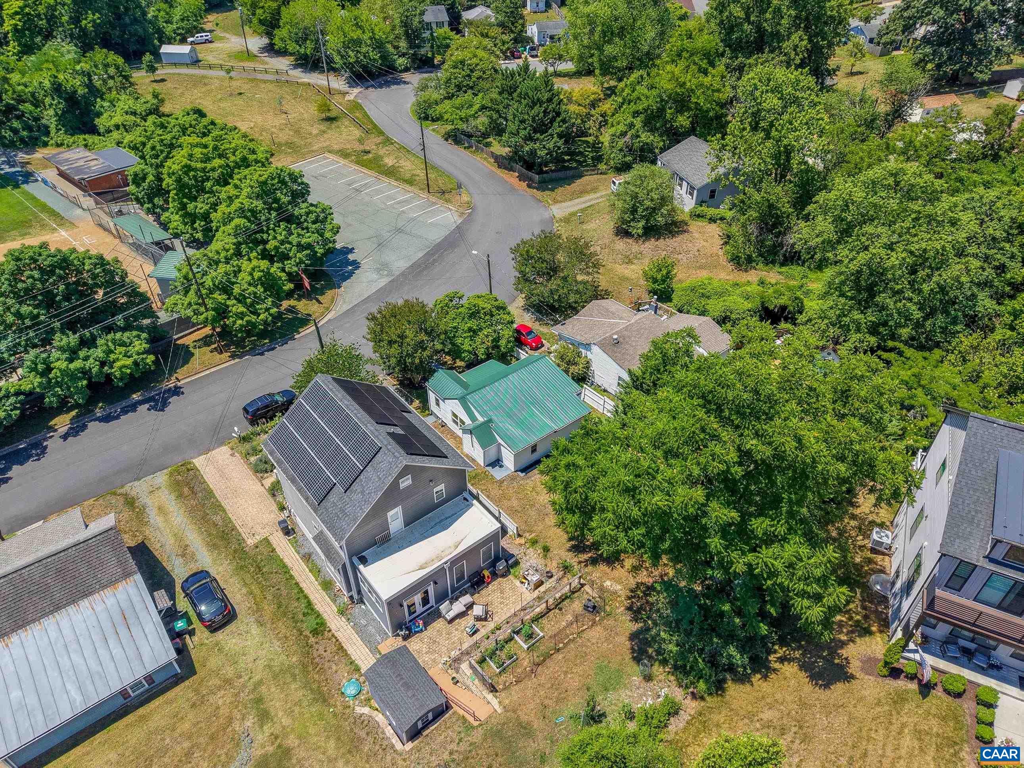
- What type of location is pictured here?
residential area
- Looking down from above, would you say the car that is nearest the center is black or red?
red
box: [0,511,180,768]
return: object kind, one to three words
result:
house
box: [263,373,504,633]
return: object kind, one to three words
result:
house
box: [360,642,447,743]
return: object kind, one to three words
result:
shed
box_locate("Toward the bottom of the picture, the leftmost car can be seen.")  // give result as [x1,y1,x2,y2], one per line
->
[176,563,235,640]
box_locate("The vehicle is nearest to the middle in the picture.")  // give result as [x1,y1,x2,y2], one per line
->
[510,321,548,353]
